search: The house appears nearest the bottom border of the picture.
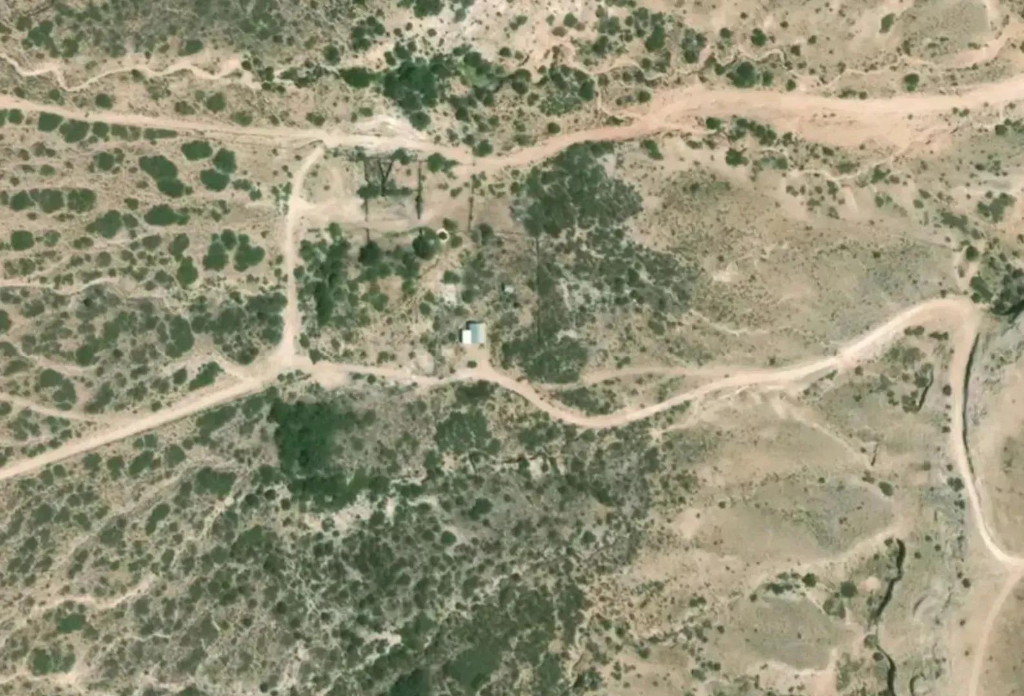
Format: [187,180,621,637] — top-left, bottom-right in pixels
[462,323,486,344]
